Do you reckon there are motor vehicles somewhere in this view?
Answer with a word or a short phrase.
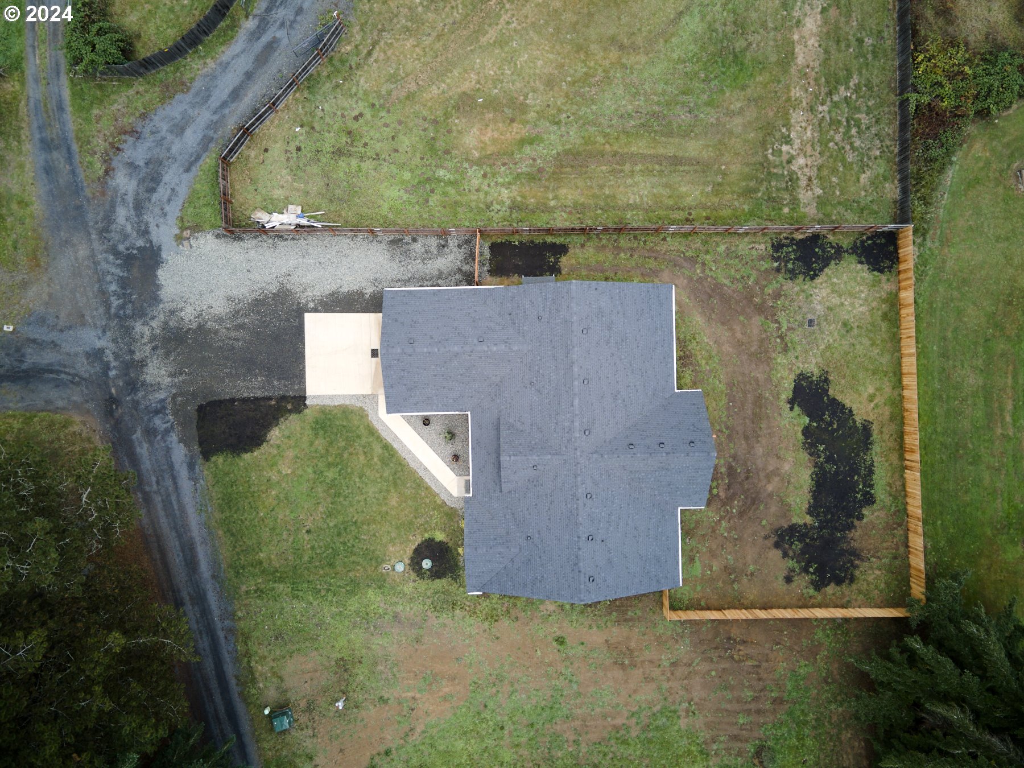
No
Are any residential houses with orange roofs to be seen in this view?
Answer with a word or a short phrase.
No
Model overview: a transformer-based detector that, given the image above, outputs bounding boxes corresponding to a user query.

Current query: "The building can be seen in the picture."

[380,276,715,603]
